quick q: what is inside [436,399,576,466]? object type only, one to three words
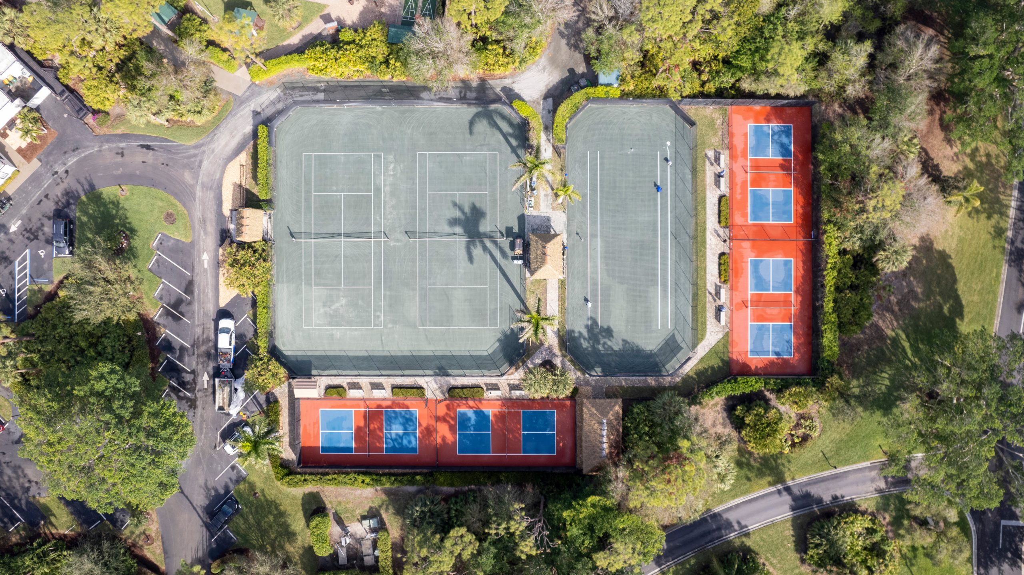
sports court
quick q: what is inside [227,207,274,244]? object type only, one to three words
shed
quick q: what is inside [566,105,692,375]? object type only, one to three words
tennis court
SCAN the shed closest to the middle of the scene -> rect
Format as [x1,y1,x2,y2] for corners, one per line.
[527,232,565,281]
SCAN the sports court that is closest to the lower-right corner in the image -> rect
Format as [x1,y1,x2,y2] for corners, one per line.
[730,240,812,375]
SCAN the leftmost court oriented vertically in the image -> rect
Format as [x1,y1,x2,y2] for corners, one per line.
[275,106,400,375]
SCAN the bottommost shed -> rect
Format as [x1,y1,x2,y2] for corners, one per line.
[581,397,624,476]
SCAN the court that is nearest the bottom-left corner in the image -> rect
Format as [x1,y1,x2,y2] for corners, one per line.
[300,399,436,466]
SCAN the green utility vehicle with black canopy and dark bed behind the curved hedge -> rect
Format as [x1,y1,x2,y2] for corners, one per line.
[570,74,594,93]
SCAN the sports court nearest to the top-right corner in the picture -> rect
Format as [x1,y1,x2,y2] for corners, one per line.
[730,106,812,240]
